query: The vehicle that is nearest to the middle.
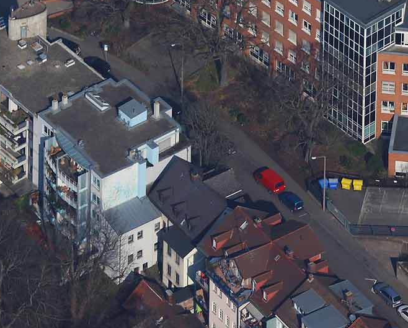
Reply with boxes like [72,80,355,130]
[253,166,286,194]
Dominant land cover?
buildings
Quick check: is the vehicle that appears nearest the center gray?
No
